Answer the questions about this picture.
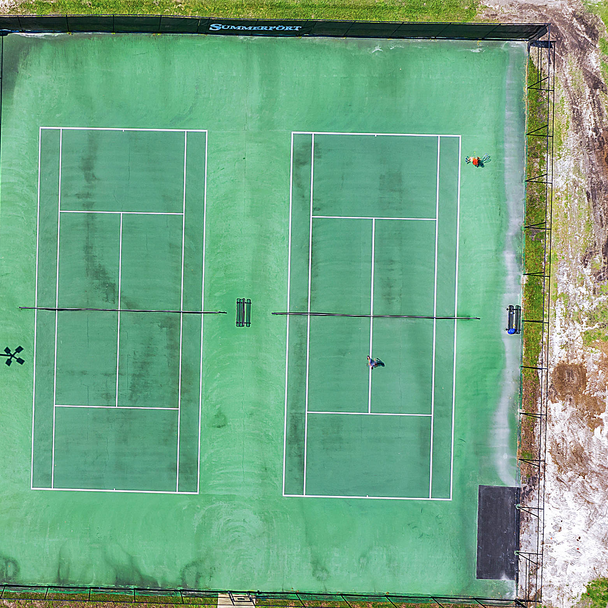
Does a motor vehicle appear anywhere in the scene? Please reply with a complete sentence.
No, no motor vehicle can be seen from above.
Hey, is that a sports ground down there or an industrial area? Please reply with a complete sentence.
It's a sports ground.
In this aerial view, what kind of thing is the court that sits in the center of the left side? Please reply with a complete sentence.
It looks like the court that sits in the center of the left side is a tennis court.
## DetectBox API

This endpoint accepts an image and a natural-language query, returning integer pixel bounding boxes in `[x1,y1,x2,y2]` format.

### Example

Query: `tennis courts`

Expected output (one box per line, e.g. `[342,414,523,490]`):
[283,131,461,501]
[31,127,208,494]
